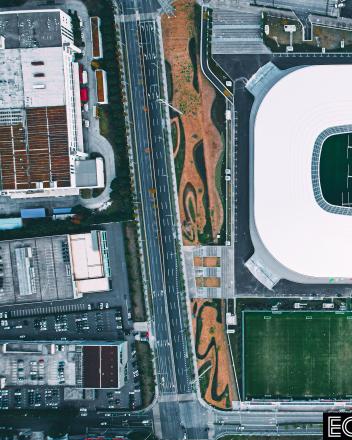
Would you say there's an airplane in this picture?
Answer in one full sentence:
No, I find no airplane anywhere in the image.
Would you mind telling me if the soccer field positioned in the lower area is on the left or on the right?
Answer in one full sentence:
It is on the right.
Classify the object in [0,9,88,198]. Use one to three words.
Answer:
building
